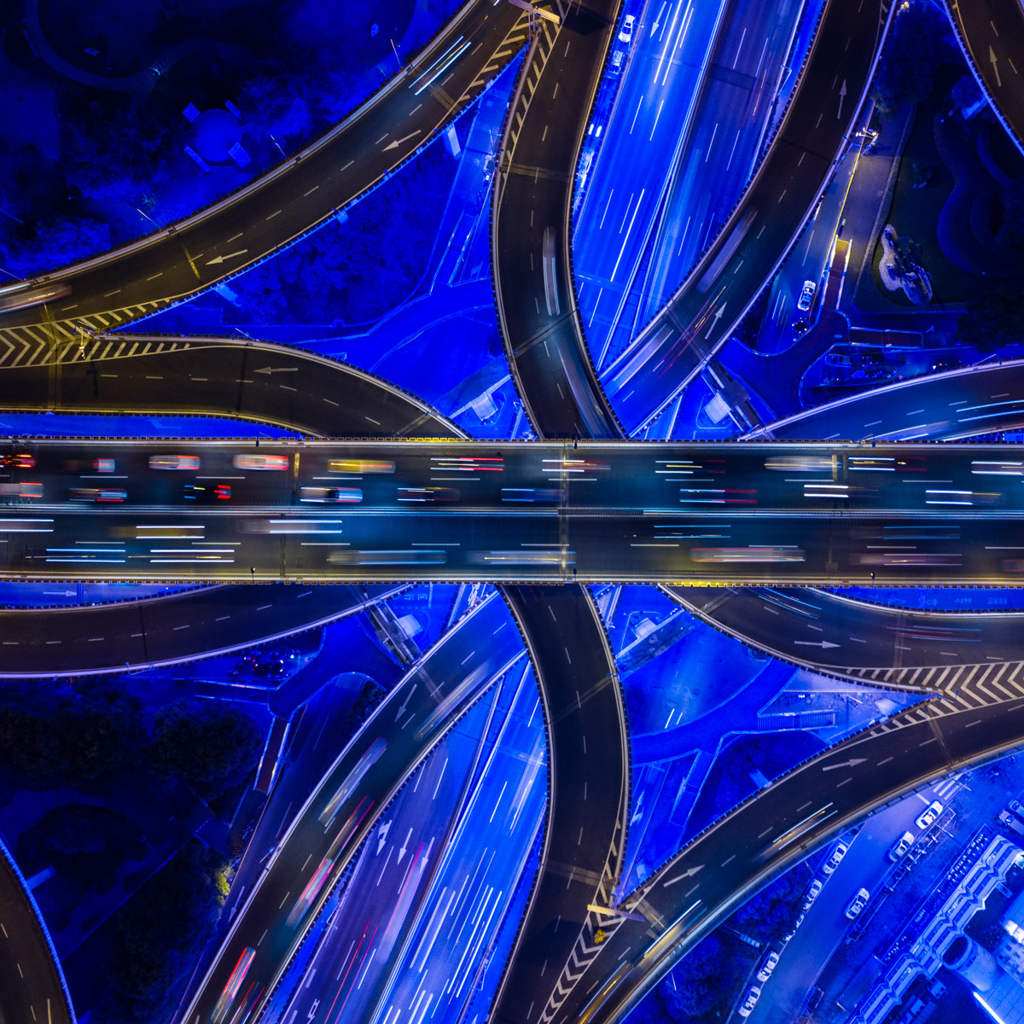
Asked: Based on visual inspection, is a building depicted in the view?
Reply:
Yes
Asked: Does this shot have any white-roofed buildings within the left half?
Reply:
No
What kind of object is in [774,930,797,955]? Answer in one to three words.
car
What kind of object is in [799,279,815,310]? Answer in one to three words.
car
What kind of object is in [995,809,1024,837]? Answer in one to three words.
vehicle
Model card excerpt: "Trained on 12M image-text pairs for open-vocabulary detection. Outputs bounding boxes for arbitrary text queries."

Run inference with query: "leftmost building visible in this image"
[179,96,250,169]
